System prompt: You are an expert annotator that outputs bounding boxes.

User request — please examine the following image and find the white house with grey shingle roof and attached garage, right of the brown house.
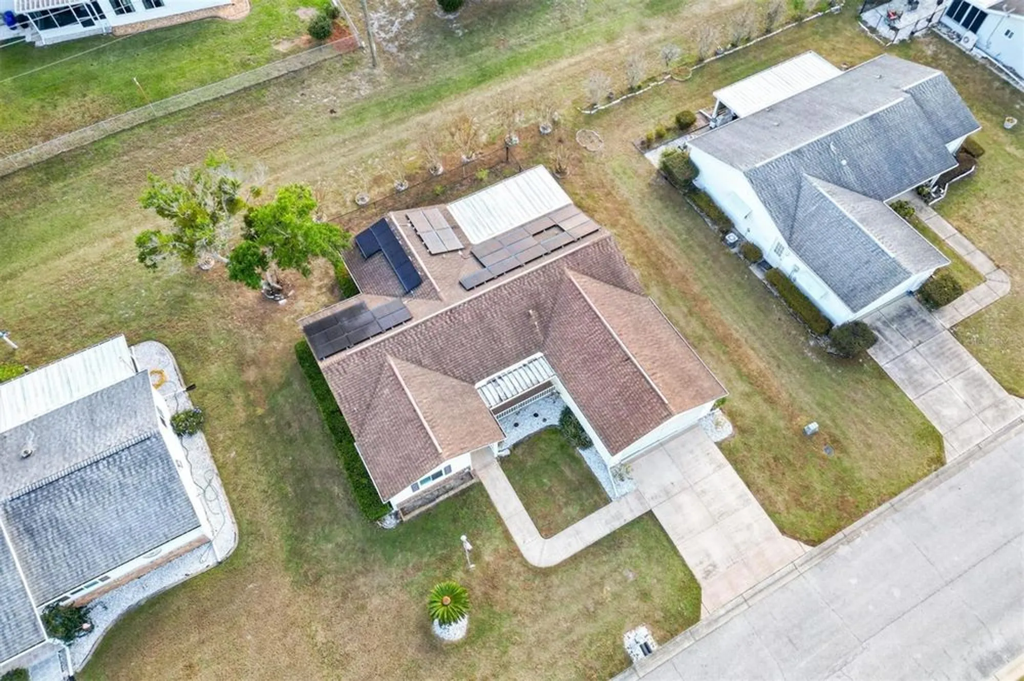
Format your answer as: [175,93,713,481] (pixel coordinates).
[689,51,983,324]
